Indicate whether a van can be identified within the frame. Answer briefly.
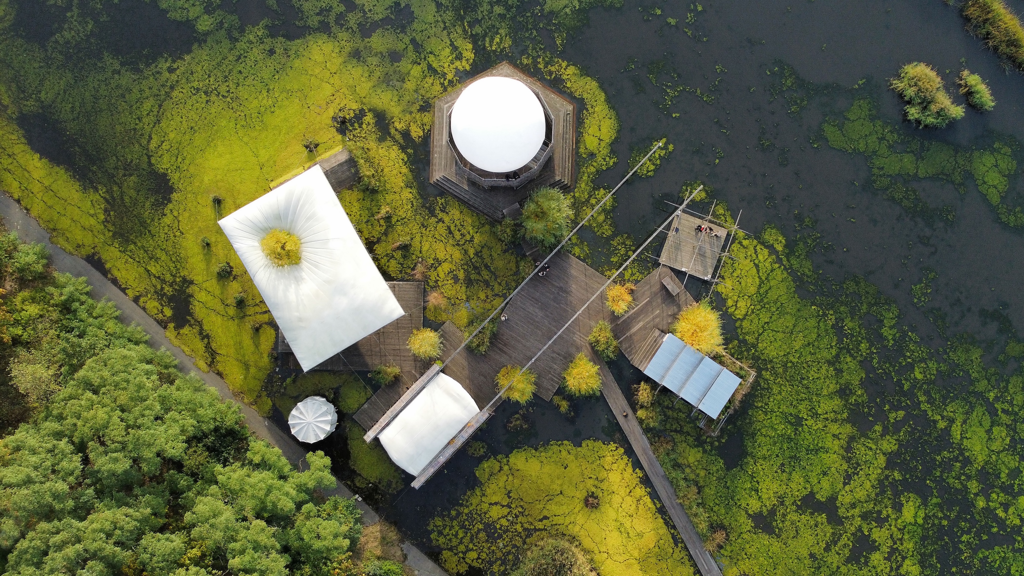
No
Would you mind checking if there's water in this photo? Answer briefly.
Yes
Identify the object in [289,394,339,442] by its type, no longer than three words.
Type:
tent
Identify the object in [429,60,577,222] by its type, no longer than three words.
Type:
building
